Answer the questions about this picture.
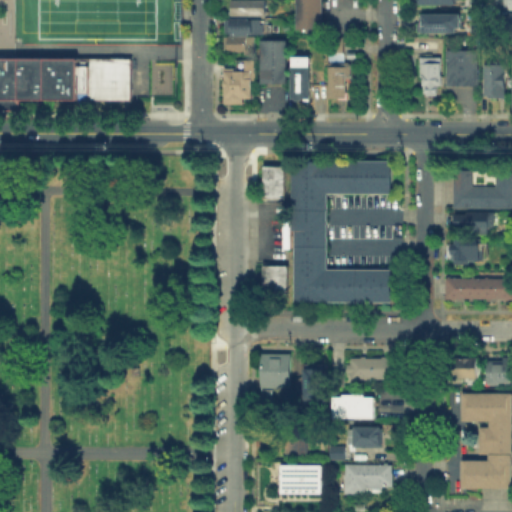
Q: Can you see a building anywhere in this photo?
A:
Yes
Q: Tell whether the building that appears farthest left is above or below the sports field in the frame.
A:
below it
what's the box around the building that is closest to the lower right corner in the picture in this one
[462,394,512,490]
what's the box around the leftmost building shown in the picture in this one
[0,59,76,102]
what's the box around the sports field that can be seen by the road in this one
[16,0,183,46]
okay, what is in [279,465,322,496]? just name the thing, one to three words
building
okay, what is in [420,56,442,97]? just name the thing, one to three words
house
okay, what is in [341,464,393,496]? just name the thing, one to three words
building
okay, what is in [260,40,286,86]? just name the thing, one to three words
house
